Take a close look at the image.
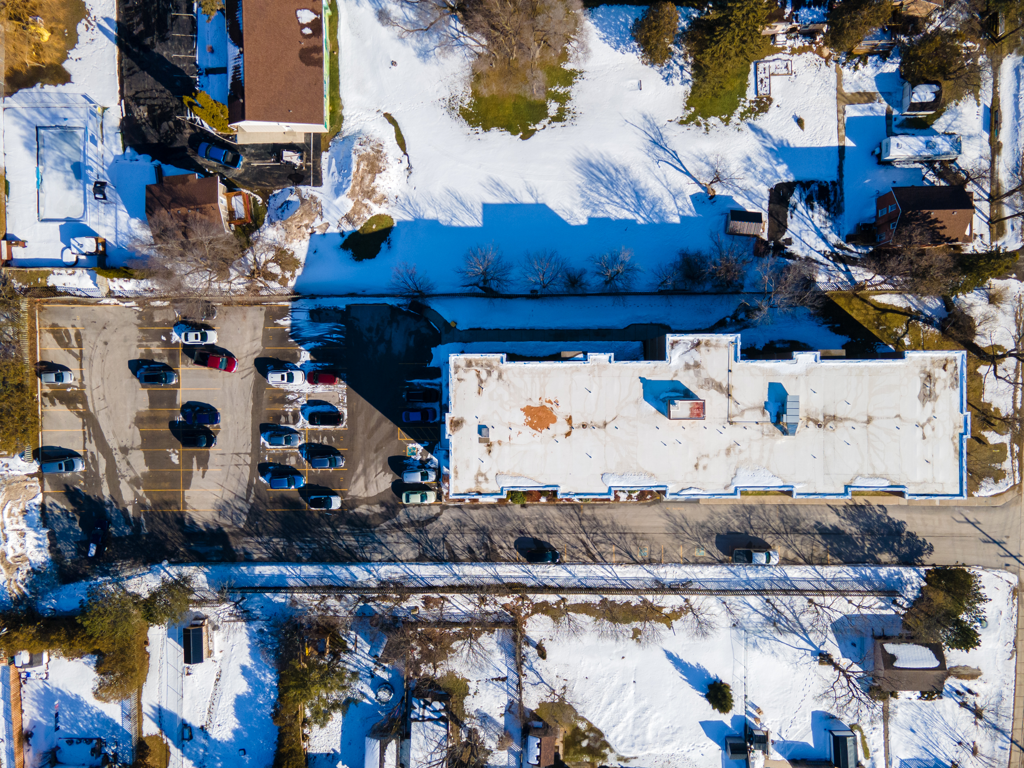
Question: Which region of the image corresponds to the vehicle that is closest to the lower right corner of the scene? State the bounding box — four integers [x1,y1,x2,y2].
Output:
[733,548,777,566]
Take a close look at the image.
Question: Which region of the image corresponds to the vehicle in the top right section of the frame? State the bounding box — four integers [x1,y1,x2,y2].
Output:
[873,136,962,162]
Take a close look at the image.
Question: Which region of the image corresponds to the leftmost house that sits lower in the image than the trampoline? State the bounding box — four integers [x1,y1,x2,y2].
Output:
[365,730,397,768]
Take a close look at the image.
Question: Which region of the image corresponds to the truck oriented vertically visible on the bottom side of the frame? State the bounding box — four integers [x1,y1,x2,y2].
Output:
[87,518,112,559]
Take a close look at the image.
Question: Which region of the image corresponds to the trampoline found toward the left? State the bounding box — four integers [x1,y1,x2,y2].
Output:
[372,684,393,708]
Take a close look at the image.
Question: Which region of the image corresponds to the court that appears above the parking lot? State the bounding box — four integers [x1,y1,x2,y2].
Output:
[37,126,86,220]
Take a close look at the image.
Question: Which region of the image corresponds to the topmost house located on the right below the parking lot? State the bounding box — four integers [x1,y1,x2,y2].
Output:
[874,639,947,691]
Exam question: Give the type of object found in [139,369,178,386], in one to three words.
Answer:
car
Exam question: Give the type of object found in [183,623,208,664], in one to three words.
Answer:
shed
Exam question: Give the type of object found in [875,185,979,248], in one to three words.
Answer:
house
